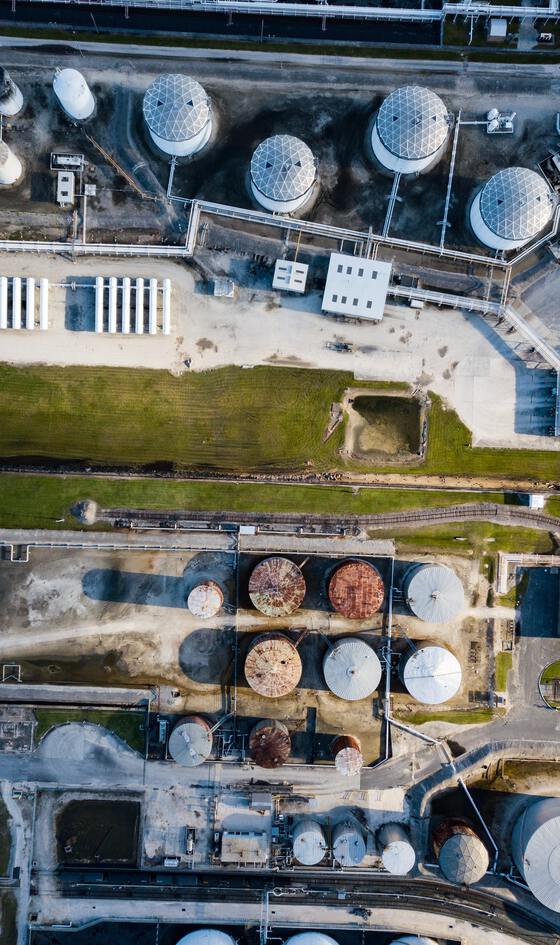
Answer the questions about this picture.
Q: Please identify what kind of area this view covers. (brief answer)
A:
industrial area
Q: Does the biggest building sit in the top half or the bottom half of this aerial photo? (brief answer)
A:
top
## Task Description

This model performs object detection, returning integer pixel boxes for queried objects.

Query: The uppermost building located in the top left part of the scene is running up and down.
[58,172,77,212]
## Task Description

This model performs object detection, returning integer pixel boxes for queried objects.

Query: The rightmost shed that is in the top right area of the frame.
[488,19,506,42]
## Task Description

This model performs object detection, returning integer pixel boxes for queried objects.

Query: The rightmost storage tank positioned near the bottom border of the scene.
[511,796,560,911]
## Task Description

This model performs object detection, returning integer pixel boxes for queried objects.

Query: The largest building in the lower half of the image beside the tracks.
[221,822,268,863]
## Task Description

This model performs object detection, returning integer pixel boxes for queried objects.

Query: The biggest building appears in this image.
[321,253,392,324]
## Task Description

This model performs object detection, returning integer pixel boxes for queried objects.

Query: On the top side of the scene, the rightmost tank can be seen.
[470,165,556,253]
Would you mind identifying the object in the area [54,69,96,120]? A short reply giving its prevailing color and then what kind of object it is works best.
white storage tank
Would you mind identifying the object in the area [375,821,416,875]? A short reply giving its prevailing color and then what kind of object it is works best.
white storage tank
